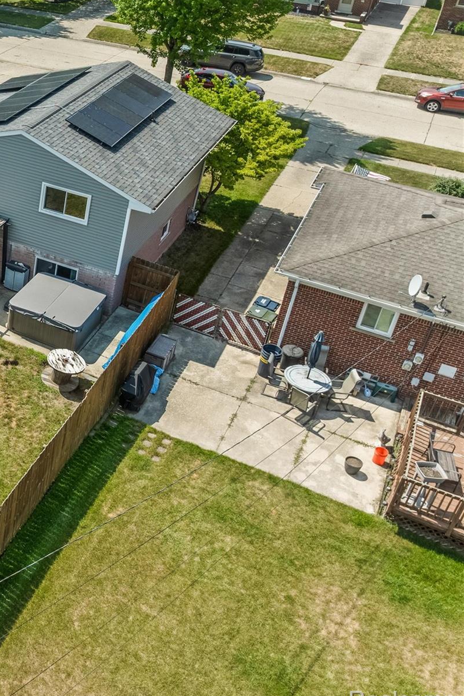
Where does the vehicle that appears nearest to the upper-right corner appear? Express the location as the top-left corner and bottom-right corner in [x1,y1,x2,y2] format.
[417,78,464,113]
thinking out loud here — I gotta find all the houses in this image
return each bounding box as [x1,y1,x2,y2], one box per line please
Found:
[0,59,241,314]
[269,167,464,395]
[262,0,381,23]
[436,0,464,28]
